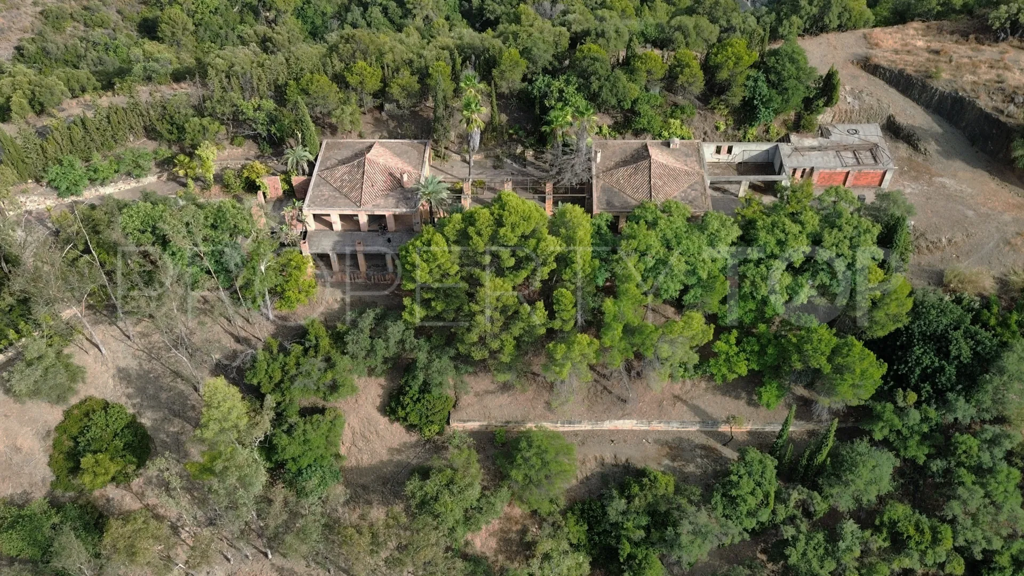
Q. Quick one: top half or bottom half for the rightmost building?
top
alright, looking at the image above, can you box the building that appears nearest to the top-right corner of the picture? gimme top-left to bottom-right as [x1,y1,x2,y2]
[776,124,902,195]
